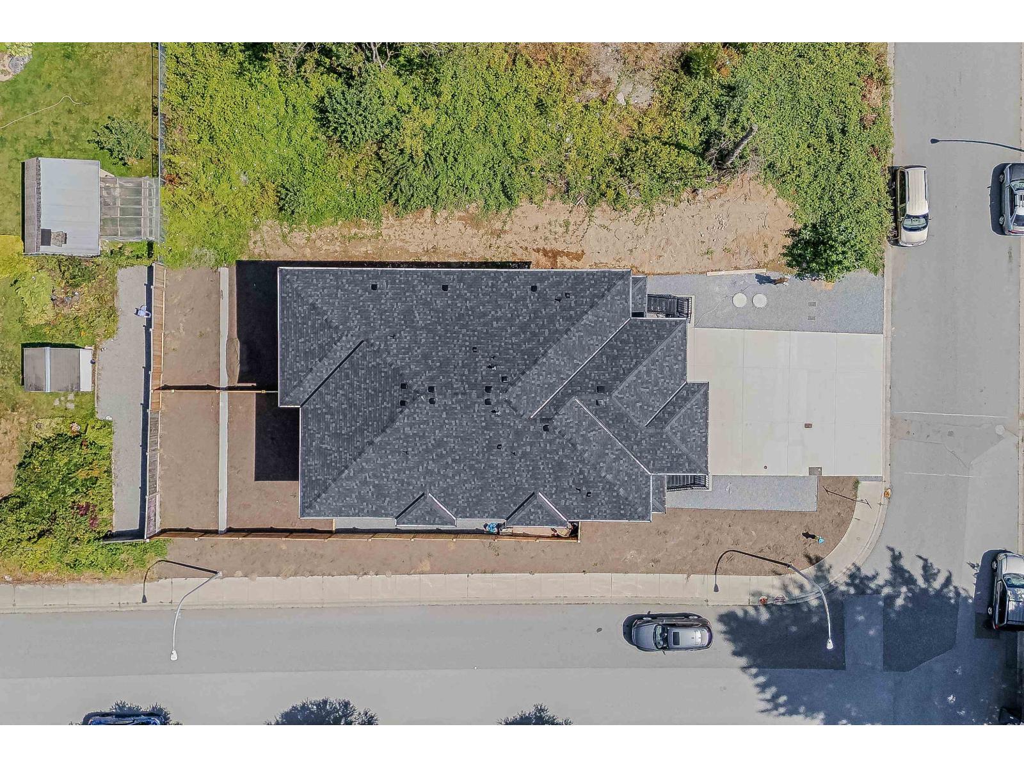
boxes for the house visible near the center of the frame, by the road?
[276,264,711,530]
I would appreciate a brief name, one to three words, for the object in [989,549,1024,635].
car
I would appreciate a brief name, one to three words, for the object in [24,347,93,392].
shed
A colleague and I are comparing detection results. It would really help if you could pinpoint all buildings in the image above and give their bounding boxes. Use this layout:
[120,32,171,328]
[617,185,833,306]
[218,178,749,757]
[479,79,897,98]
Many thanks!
[24,347,93,392]
[276,264,711,530]
[24,155,114,260]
